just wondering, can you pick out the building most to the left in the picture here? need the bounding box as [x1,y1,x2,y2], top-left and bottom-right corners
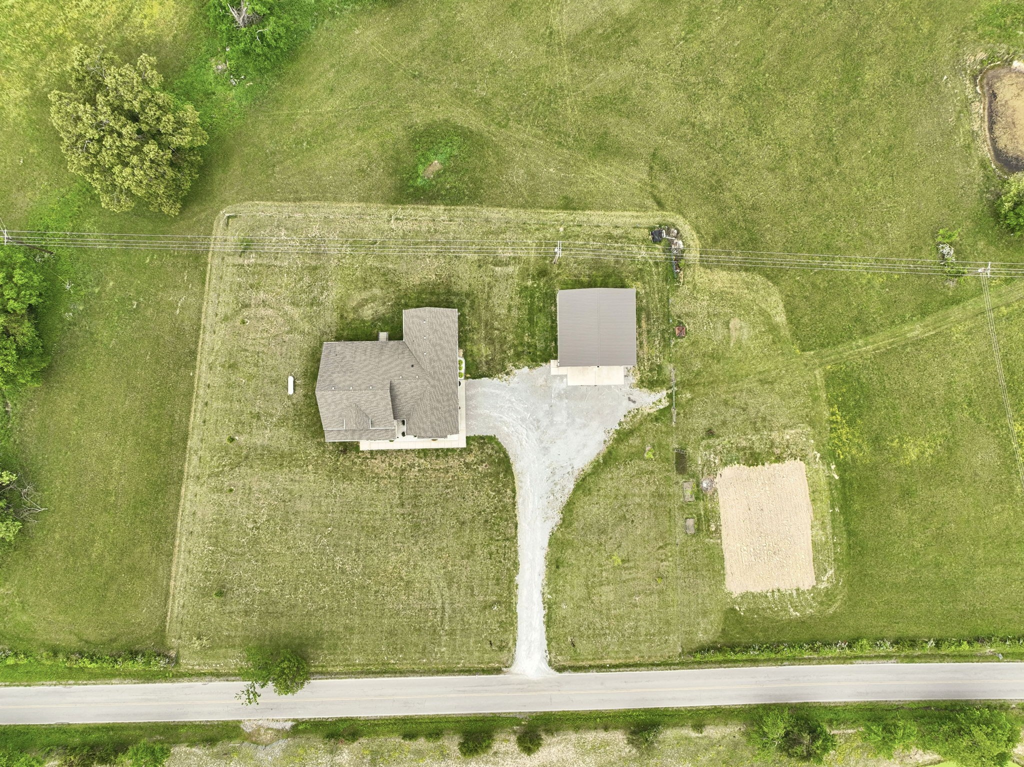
[315,307,460,442]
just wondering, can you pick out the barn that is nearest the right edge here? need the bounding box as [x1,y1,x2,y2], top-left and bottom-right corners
[558,287,637,368]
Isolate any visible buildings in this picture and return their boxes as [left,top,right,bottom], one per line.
[558,287,637,368]
[315,307,460,442]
